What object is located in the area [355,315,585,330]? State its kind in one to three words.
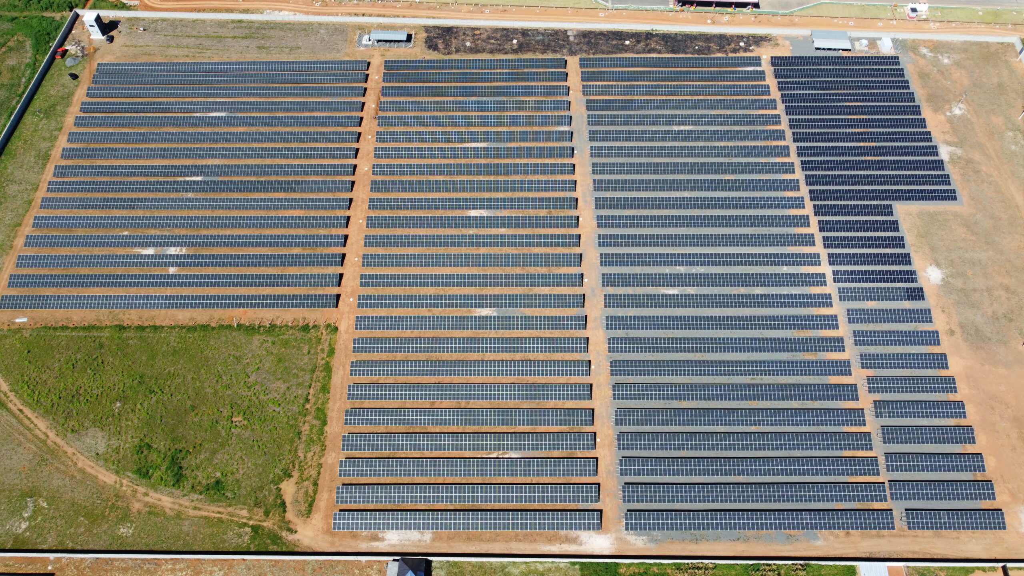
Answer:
solar array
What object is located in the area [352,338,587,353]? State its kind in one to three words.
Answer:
solar array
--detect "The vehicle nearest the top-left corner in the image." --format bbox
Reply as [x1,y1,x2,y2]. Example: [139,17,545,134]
[55,44,68,58]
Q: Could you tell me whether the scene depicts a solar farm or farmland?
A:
solar farm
